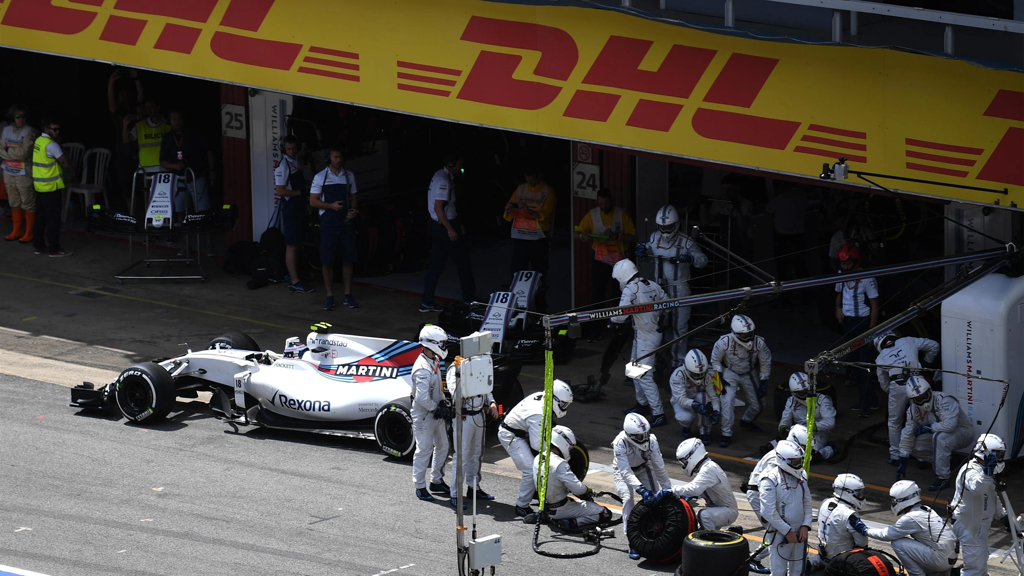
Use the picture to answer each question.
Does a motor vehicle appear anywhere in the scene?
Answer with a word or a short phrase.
Yes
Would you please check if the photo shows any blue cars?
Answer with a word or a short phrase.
No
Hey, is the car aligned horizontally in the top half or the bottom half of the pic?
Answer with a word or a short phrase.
bottom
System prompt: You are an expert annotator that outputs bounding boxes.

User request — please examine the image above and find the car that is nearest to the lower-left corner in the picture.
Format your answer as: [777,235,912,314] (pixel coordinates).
[64,323,523,456]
